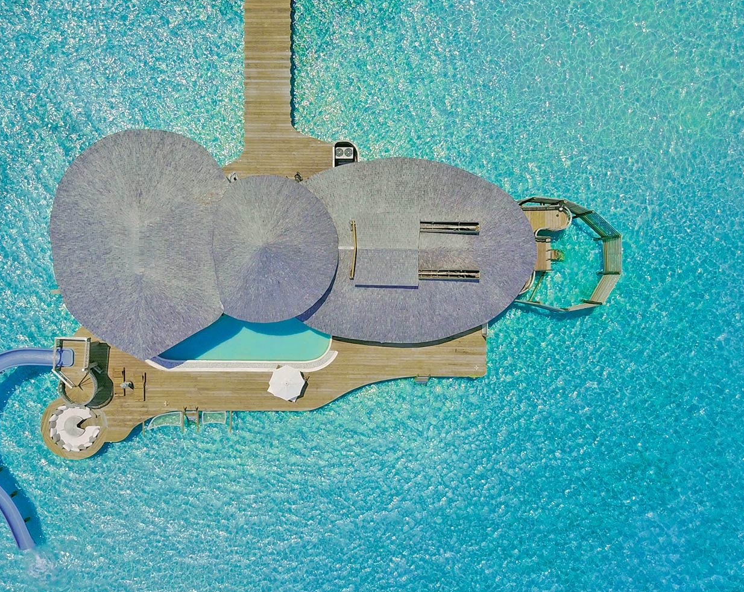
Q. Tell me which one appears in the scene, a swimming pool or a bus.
swimming pool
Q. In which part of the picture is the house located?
center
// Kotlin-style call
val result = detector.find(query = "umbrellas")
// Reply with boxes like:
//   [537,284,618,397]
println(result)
[270,365,305,400]
[121,381,134,390]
